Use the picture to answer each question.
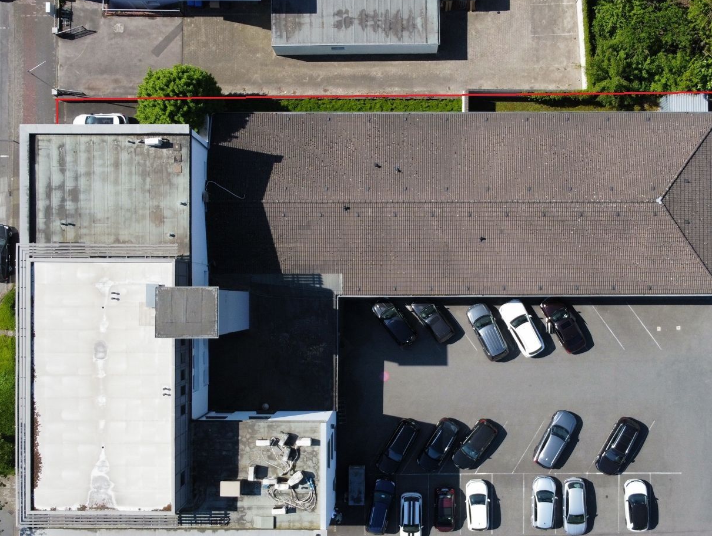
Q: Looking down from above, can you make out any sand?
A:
No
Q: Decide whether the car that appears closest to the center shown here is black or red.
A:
black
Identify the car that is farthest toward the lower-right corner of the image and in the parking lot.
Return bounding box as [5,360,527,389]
[623,480,650,532]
